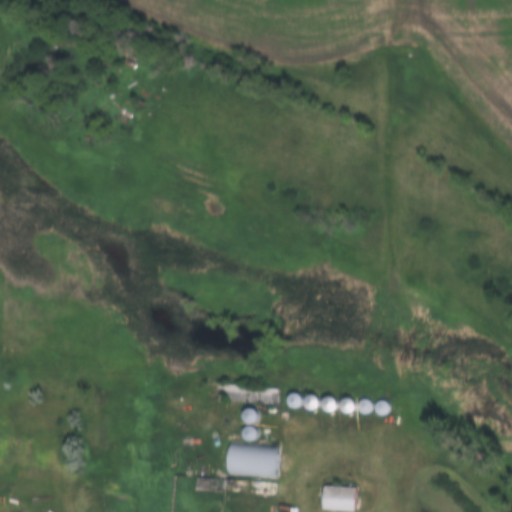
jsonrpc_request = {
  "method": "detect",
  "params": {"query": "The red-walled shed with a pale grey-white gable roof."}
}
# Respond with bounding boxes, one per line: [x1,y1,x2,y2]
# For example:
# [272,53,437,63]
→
[322,486,358,512]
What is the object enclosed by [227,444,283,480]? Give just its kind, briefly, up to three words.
barn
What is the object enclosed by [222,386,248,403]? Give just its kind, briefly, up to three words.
shed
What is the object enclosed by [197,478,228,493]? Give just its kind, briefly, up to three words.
shed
